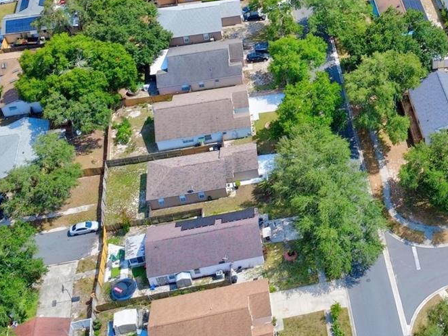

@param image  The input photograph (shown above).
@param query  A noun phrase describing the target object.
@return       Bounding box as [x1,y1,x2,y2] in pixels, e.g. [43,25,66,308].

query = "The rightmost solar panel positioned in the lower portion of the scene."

[222,208,254,222]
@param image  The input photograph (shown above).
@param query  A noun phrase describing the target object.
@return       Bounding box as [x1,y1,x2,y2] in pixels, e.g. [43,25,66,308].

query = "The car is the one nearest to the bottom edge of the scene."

[70,221,99,239]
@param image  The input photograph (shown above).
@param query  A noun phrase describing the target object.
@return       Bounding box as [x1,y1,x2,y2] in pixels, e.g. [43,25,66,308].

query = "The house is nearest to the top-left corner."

[0,0,68,43]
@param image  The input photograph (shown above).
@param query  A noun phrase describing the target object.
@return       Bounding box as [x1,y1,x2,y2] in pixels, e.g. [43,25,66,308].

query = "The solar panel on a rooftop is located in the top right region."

[400,0,426,17]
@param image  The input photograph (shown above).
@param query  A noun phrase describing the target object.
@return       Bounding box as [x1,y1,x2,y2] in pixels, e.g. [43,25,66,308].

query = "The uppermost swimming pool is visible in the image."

[110,276,139,302]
